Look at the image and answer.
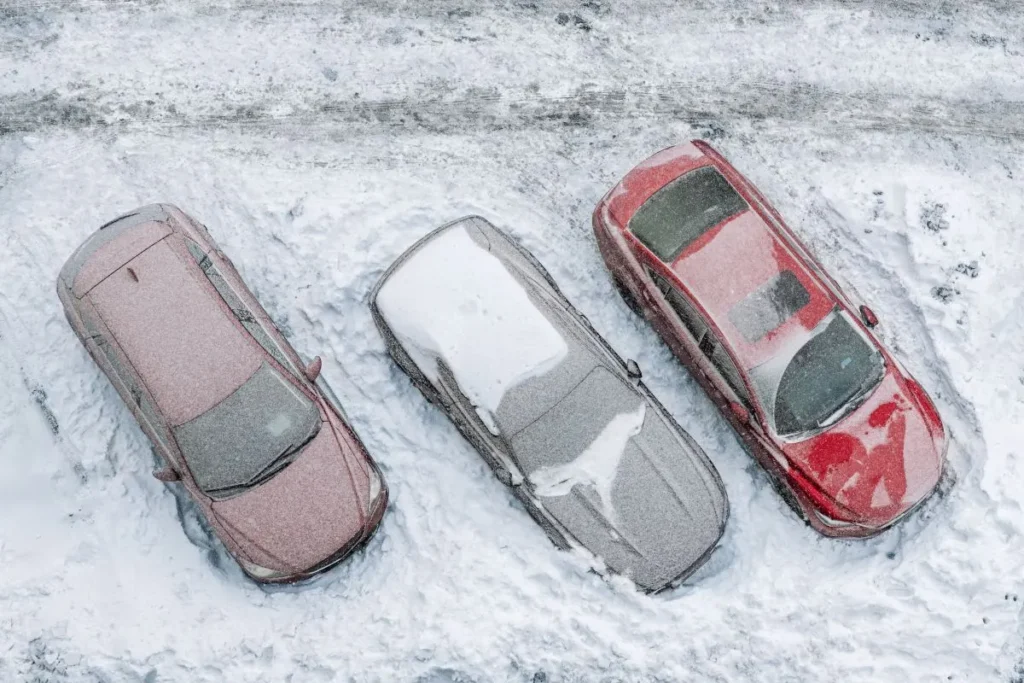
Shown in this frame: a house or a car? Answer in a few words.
car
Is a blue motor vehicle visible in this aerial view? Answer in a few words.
No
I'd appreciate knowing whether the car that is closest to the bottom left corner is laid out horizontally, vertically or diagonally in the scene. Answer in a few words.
diagonally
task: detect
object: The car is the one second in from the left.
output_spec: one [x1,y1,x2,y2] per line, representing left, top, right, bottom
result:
[367,214,729,605]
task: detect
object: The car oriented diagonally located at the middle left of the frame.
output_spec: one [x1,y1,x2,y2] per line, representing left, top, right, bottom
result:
[57,207,386,582]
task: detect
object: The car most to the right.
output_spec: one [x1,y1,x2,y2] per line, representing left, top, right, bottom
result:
[592,141,945,529]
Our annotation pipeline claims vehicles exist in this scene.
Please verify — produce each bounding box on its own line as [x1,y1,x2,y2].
[367,214,729,605]
[592,141,945,529]
[57,207,386,582]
